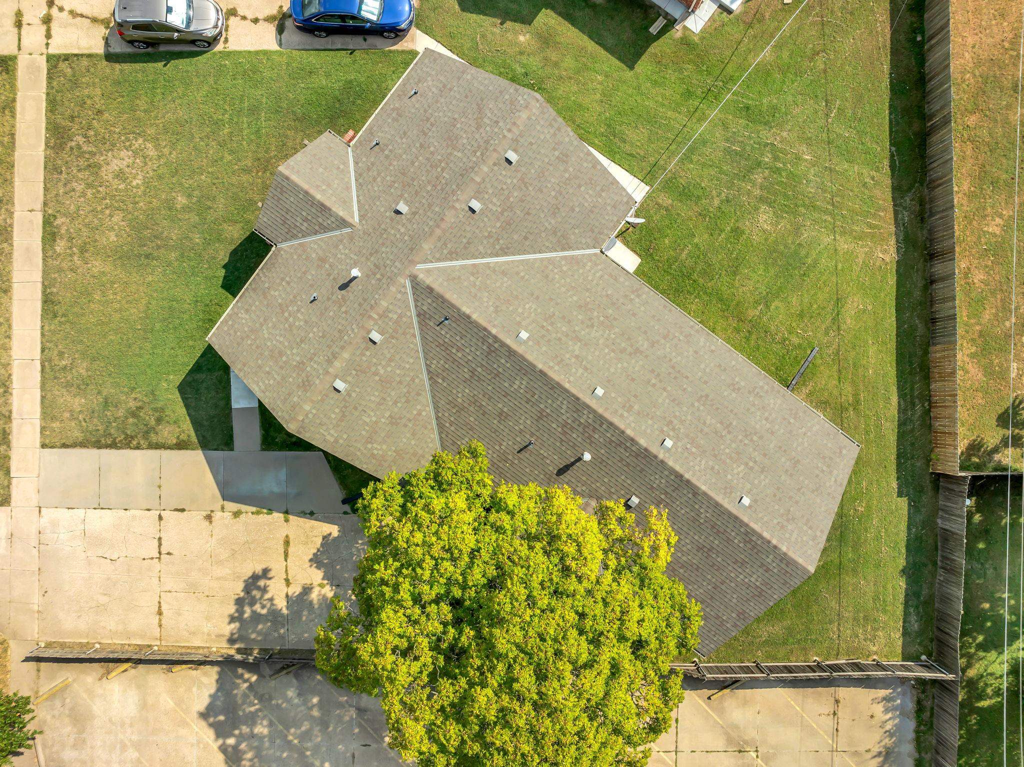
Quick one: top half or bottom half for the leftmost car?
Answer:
top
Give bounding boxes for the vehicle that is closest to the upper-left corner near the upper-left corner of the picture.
[112,0,228,48]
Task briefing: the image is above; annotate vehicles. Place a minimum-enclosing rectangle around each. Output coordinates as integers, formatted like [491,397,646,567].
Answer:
[291,0,416,39]
[112,0,228,48]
